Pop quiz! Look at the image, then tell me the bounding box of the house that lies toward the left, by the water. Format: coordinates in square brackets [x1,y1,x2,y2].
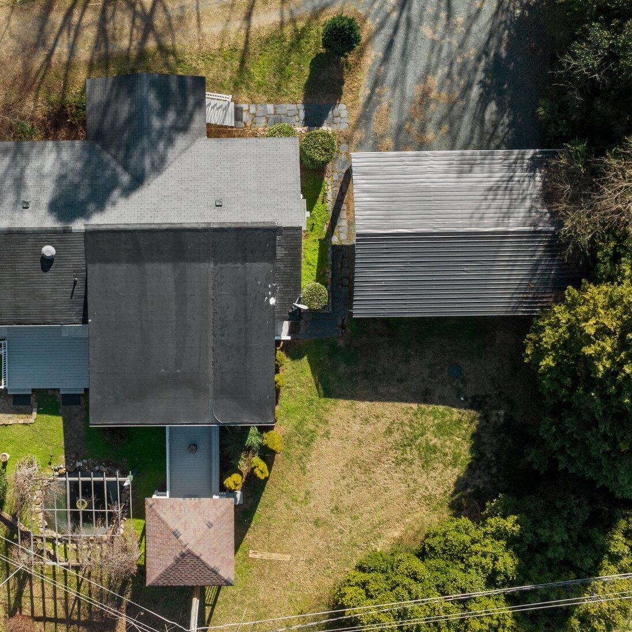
[0,73,314,427]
